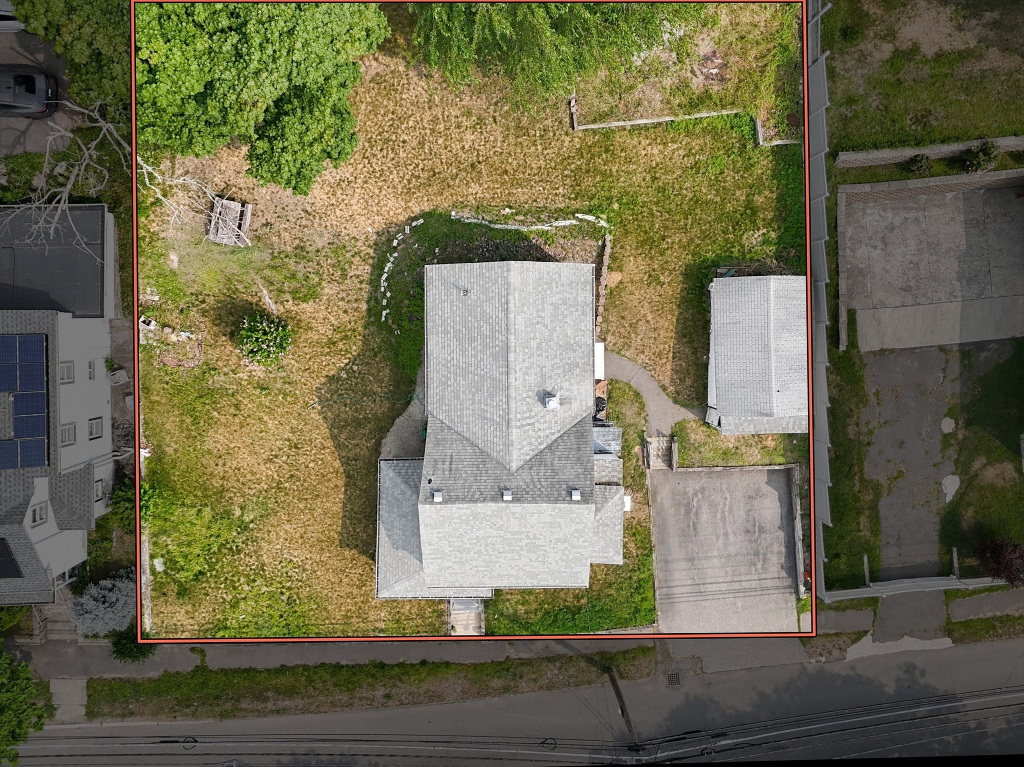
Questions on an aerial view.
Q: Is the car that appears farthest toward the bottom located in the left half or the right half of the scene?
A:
left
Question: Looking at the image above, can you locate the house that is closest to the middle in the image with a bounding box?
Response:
[375,259,630,601]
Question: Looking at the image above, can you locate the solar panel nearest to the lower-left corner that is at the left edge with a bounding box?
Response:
[0,541,22,581]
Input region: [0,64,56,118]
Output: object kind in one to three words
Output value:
car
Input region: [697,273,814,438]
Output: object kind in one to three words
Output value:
building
